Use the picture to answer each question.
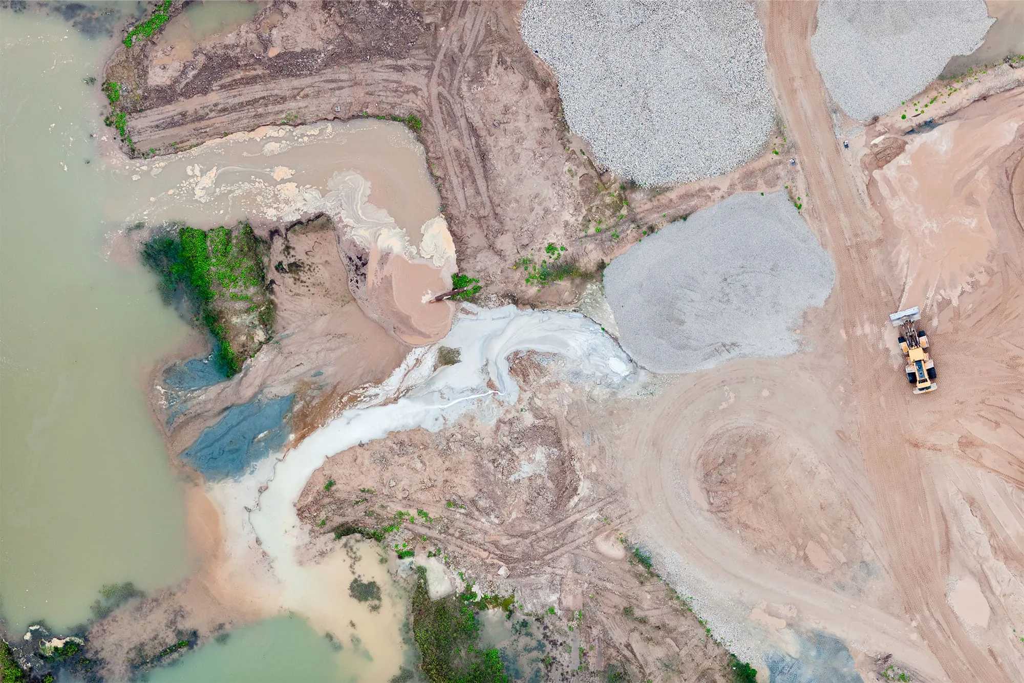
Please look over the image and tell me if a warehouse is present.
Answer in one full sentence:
No, there is no warehouse in the image.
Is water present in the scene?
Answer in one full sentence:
Yes, there's water in this view.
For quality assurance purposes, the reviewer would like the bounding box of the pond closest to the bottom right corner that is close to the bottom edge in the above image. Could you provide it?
[478,604,563,683]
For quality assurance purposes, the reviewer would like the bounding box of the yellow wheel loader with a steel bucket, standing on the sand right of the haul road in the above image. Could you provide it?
[889,305,939,394]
